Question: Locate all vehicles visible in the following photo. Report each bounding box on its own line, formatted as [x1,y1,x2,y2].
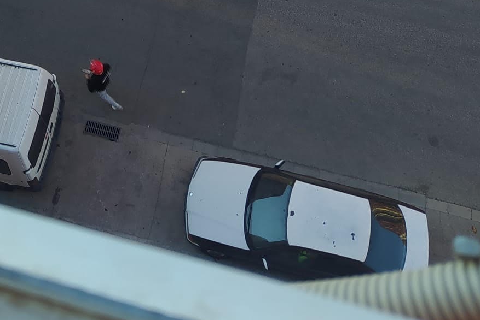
[0,64,71,188]
[174,151,432,282]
